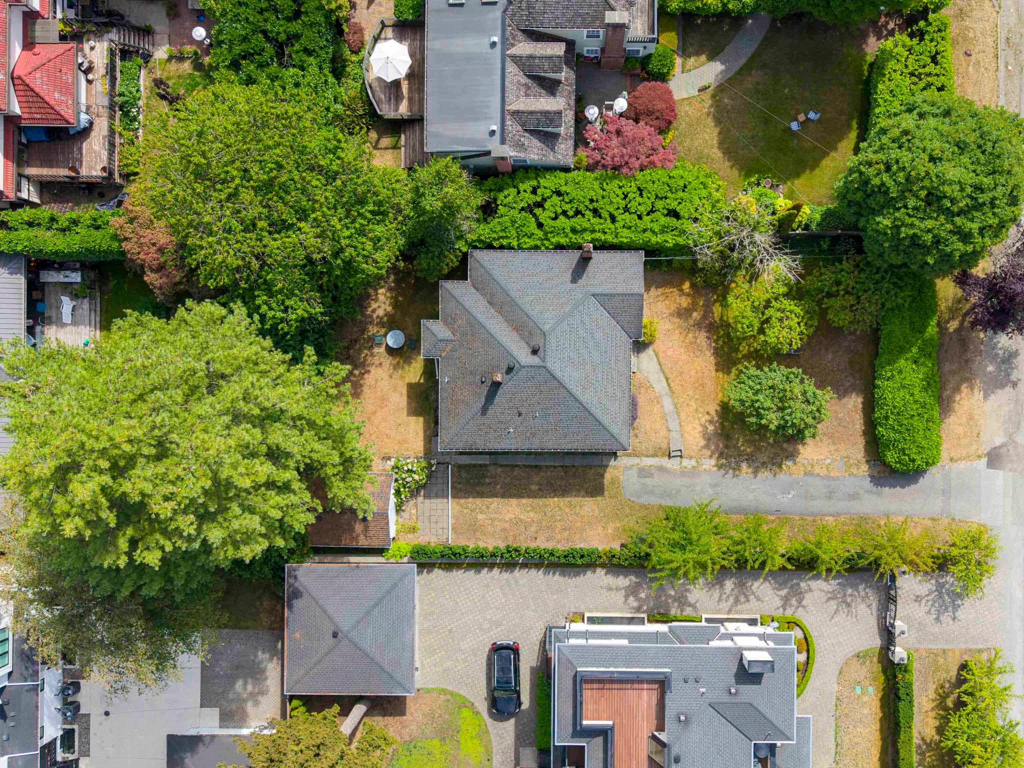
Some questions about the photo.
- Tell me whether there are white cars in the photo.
No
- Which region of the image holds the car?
bottom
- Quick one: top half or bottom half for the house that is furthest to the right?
bottom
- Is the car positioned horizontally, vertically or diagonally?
vertically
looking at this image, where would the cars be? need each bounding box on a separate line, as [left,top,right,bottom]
[488,640,522,713]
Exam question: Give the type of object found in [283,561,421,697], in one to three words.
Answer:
building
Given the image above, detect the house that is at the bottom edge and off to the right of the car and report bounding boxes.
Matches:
[546,613,815,768]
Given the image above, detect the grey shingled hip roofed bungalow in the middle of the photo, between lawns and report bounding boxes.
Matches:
[419,241,647,453]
